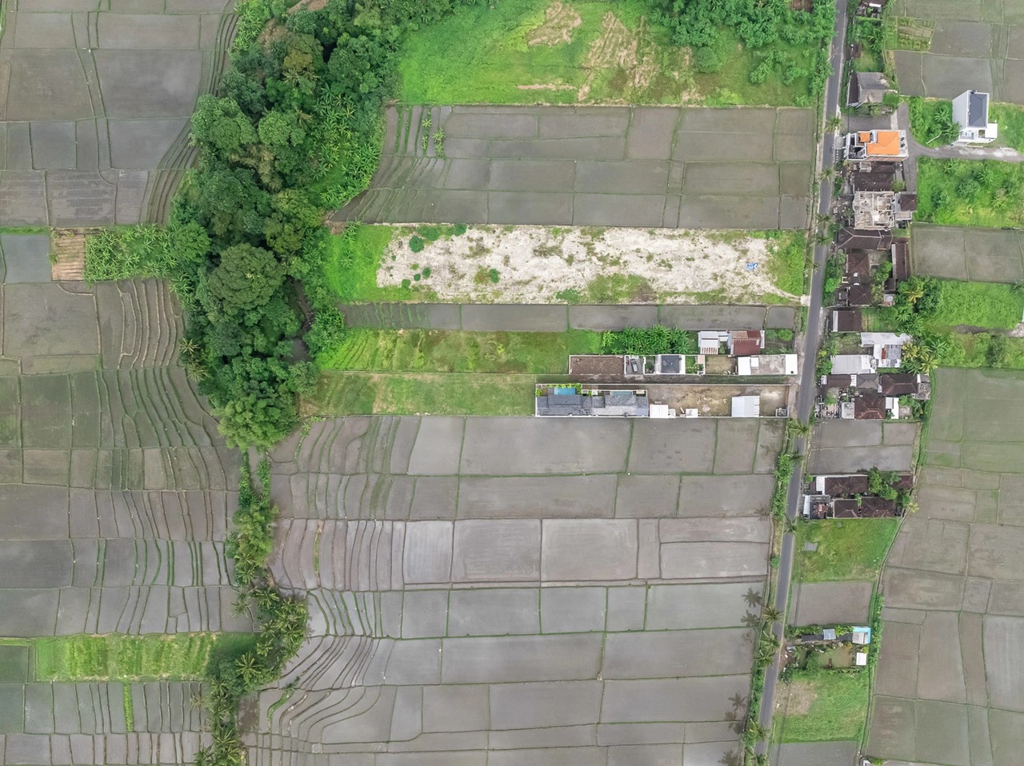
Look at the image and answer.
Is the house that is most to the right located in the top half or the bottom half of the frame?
top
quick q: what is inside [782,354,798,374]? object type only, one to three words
building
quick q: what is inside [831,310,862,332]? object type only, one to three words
building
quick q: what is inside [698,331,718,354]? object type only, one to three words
house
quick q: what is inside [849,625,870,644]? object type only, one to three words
shed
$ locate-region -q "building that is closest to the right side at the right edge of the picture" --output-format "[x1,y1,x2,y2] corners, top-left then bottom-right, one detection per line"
[951,90,998,145]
